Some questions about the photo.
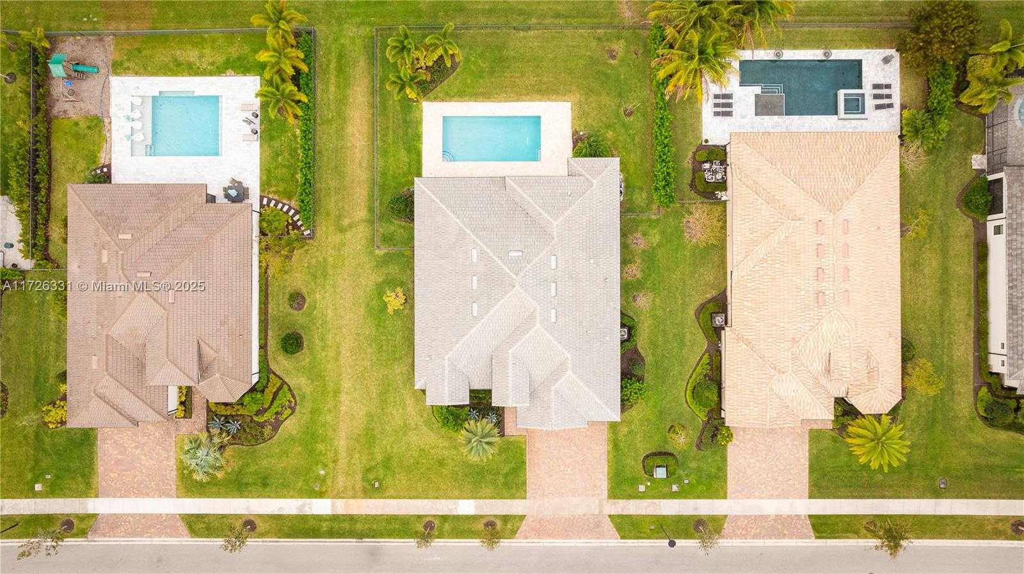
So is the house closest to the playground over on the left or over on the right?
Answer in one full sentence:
The house closest to the playground is on the left side of the image.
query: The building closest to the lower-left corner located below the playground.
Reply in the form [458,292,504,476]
[66,183,259,428]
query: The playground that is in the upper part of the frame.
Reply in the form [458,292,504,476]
[50,35,113,118]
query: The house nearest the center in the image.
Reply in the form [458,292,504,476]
[414,157,621,431]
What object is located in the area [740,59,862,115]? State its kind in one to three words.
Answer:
swimming pool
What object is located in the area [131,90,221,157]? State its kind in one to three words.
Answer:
swimming pool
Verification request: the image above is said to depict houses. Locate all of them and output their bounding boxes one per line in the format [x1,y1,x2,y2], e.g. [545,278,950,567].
[720,131,902,431]
[414,157,621,431]
[986,166,1024,392]
[66,183,259,428]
